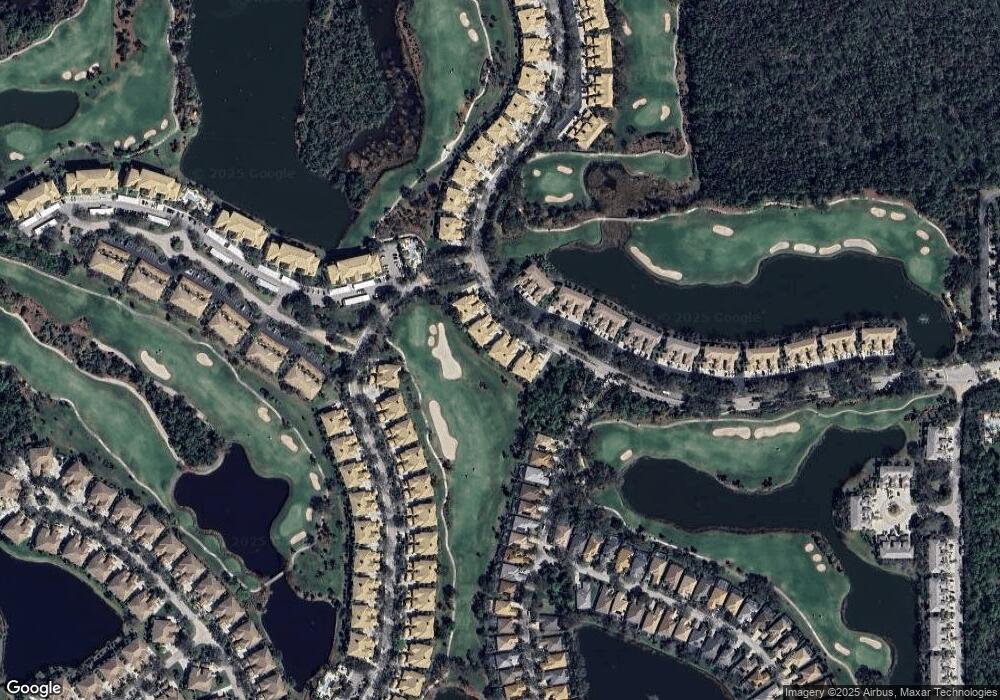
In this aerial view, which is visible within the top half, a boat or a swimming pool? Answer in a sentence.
Looking within the top half, you will find a swimming pool.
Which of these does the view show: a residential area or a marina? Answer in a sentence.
The picture captures a residential area.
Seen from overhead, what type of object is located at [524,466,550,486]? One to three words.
house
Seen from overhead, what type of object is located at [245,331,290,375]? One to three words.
building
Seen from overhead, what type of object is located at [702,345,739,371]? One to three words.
house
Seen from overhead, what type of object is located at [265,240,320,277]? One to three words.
building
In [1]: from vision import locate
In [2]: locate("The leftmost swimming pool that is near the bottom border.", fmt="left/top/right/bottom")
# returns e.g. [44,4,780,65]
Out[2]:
[317,666,347,699]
